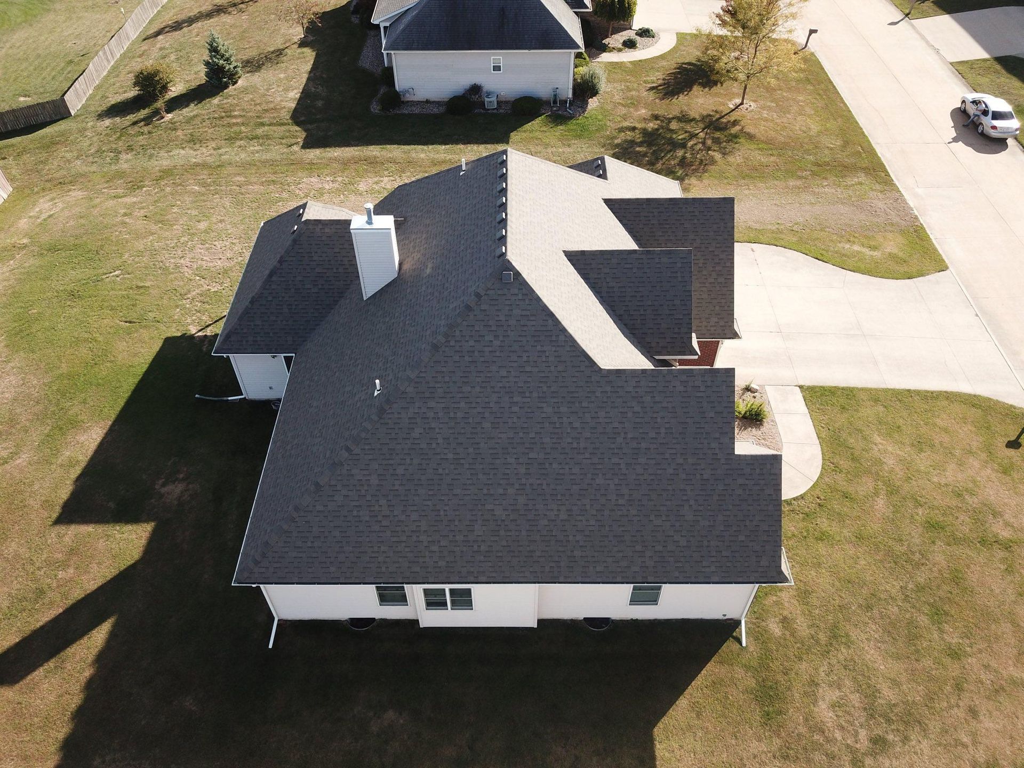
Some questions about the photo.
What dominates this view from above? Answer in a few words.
grass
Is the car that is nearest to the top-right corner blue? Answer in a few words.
No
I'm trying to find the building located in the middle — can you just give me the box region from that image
[196,148,795,647]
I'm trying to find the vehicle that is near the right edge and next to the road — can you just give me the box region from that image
[959,90,1024,139]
